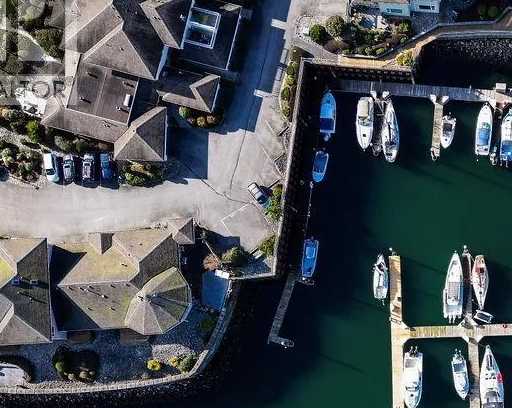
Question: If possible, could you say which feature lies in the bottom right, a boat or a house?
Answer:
boat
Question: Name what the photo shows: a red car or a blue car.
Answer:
blue car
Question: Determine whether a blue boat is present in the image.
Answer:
Yes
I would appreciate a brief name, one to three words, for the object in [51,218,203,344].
house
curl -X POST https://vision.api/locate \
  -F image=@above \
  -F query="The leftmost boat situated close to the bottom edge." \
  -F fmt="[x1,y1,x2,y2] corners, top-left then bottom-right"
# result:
[402,349,422,408]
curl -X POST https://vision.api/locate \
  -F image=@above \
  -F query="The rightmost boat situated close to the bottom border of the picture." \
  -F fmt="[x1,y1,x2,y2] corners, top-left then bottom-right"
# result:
[478,346,504,408]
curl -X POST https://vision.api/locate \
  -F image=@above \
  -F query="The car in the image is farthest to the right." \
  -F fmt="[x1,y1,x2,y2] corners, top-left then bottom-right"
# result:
[247,183,272,210]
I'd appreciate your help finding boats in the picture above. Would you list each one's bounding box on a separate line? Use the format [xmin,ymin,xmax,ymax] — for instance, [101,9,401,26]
[303,277,315,285]
[402,349,422,408]
[469,255,488,310]
[443,251,466,324]
[301,235,319,277]
[312,147,330,181]
[478,346,504,408]
[356,94,376,152]
[498,106,512,164]
[438,113,455,150]
[451,351,471,402]
[318,90,338,138]
[474,101,494,156]
[372,252,390,302]
[380,98,399,164]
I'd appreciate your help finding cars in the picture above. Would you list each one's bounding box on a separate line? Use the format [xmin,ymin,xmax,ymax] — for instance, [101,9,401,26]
[100,154,118,182]
[247,183,272,210]
[63,154,80,183]
[44,153,64,183]
[82,153,100,183]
